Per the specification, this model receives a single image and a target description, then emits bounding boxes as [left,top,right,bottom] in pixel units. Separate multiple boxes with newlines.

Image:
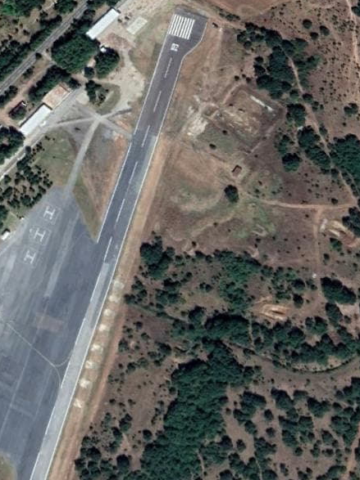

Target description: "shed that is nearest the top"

[86,8,119,38]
